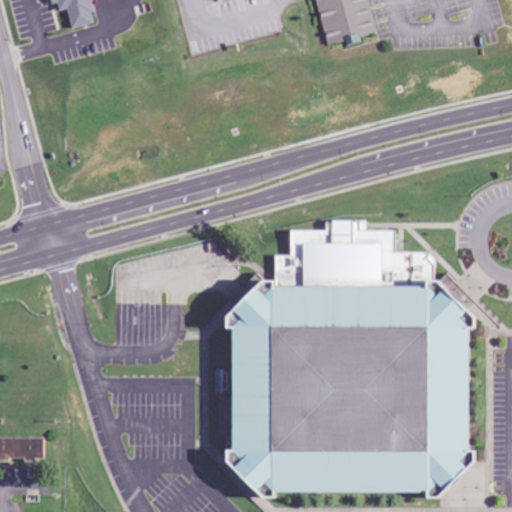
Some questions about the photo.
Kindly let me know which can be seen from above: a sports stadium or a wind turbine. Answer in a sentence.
The one in the frame is a sports stadium.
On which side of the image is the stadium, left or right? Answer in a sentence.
It is on the right.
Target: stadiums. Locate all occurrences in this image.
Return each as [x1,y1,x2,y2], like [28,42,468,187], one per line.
[226,281,478,500]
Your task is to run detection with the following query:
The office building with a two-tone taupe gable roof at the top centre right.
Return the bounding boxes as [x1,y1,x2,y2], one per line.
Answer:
[316,0,378,48]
